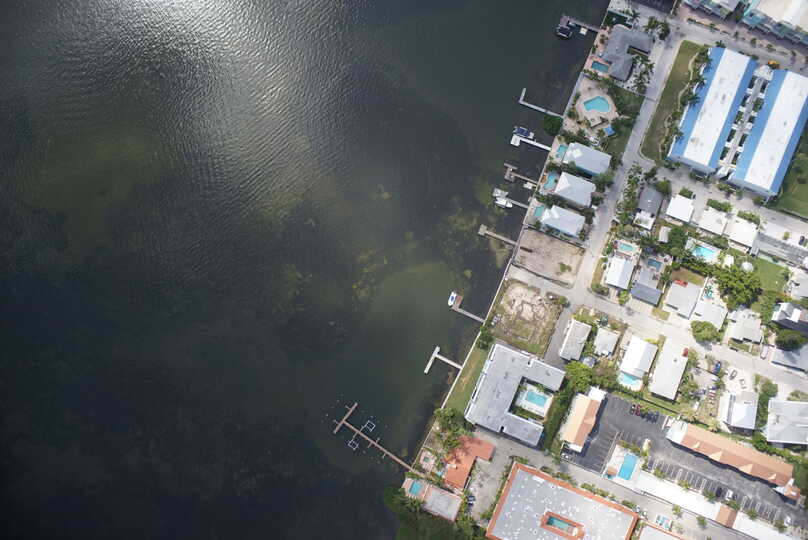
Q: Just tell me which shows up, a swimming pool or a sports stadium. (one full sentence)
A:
Visible in the photo is a swimming pool.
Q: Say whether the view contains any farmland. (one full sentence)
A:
No, the picture contains no farmland.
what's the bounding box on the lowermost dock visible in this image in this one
[332,401,432,482]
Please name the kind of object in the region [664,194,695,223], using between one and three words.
house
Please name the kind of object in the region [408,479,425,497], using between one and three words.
swimming pool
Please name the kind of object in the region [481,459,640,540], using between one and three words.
building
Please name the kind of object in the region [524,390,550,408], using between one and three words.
swimming pool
